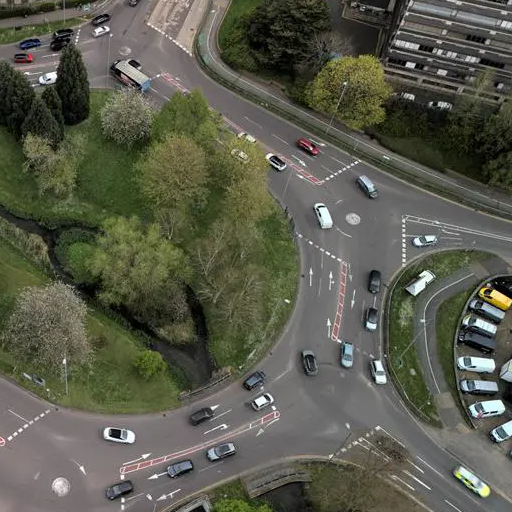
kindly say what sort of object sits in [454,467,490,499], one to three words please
car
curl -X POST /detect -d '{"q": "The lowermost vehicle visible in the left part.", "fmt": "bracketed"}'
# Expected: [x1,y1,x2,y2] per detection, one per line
[104,480,137,501]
